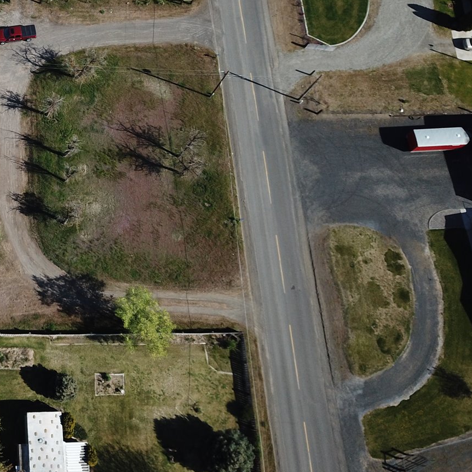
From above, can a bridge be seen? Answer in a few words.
No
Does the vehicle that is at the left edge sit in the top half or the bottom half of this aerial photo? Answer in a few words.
top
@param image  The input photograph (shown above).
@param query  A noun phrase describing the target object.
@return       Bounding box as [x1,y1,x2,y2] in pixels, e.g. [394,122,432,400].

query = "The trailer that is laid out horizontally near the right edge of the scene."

[406,127,471,152]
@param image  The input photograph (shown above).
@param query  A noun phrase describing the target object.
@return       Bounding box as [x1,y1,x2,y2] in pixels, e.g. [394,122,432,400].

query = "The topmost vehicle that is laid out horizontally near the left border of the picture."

[0,25,37,45]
